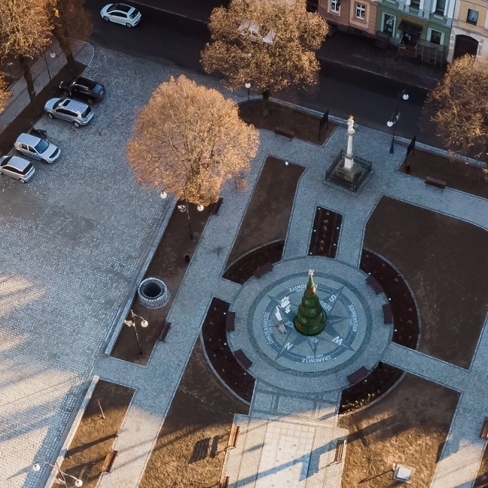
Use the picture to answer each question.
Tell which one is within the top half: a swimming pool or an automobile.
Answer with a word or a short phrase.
automobile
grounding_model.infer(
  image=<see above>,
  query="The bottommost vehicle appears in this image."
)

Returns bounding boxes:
[0,153,40,186]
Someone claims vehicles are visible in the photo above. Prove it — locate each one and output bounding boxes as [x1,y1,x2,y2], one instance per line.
[55,73,111,106]
[0,153,40,186]
[40,95,99,129]
[9,128,62,165]
[96,1,145,31]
